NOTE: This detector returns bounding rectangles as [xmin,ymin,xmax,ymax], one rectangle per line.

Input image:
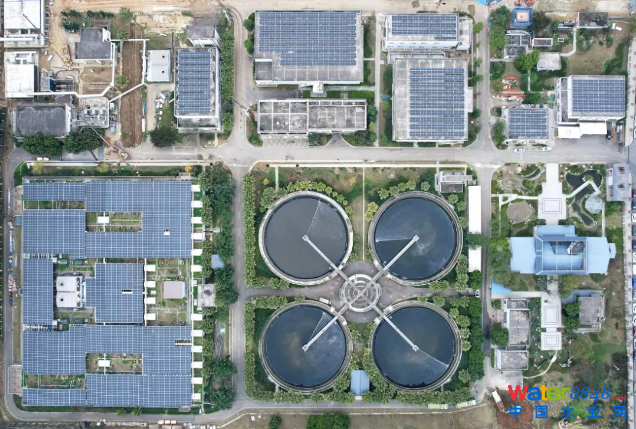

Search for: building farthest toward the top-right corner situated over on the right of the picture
[575,12,608,30]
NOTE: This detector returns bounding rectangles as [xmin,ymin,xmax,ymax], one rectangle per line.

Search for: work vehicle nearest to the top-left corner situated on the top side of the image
[52,42,73,66]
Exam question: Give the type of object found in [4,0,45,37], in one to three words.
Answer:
building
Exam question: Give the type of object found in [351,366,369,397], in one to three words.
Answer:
shed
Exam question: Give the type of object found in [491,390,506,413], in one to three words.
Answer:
vehicle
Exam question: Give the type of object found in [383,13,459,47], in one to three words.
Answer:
building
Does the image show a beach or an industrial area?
industrial area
